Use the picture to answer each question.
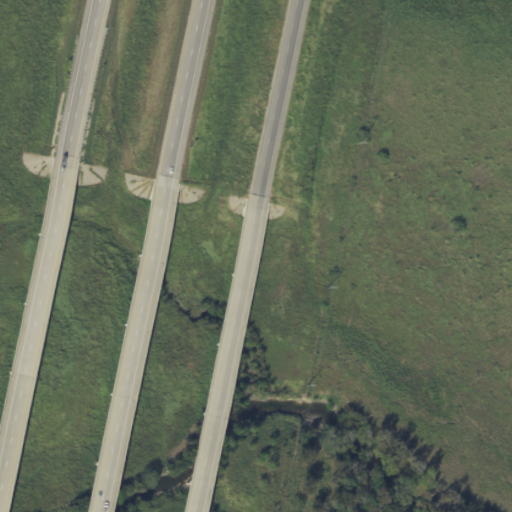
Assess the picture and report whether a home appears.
No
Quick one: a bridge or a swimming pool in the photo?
bridge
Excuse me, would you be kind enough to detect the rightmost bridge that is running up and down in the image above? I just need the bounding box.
[185,193,273,512]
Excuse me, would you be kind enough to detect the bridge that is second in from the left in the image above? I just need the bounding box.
[90,174,181,512]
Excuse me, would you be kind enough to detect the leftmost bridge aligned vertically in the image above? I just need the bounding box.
[0,154,80,512]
